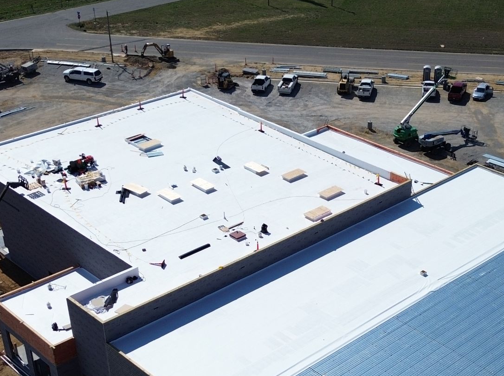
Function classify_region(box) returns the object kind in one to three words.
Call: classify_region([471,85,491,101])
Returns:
car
